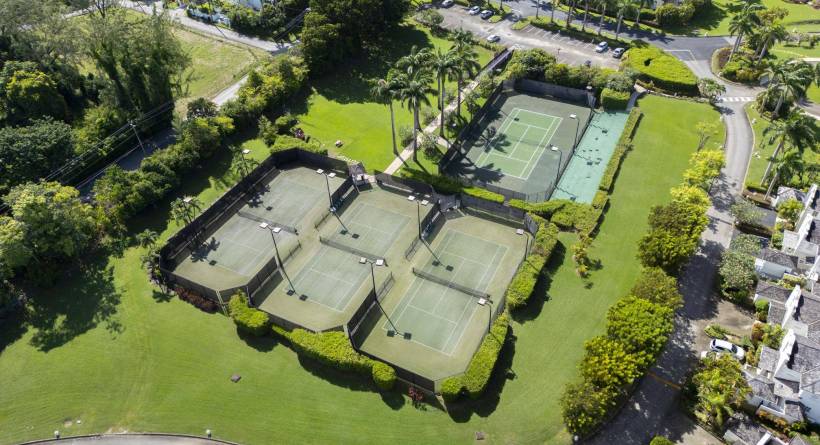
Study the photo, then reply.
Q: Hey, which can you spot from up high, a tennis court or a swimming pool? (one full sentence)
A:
There is a tennis court in the scene.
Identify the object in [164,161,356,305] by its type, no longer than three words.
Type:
tennis court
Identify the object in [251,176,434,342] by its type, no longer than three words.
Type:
tennis court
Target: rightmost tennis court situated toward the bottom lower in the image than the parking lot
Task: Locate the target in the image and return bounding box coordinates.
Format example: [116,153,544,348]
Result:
[346,201,533,395]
